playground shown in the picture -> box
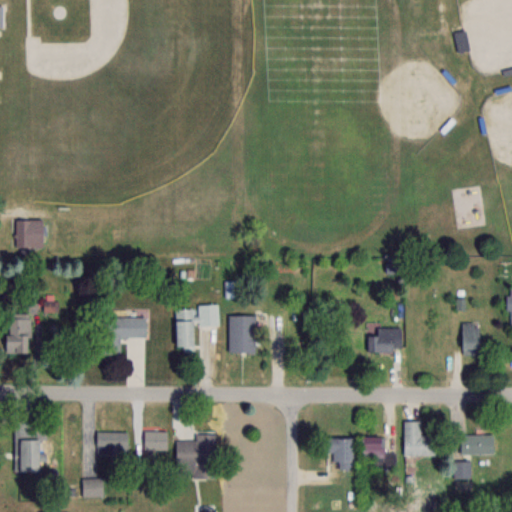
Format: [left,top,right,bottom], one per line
[452,186,486,230]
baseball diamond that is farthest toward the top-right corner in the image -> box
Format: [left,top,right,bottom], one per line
[462,0,512,74]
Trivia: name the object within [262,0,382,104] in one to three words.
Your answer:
sports field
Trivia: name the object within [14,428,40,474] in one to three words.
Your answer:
house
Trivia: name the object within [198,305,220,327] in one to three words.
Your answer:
building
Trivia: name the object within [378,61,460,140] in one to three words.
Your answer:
baseball field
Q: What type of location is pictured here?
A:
sports ground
